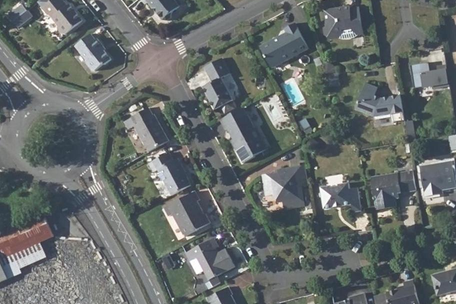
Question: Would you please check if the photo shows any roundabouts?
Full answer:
Yes, you can see a roundabout in this photo.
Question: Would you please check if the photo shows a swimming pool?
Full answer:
Yes, looking at the shot, I can spot a swimming pool.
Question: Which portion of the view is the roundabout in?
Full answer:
You can find the roundabout in the left area of the picture.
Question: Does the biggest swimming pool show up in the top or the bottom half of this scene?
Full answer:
Seen from above, the biggest swimming pool lies in the top half of the view.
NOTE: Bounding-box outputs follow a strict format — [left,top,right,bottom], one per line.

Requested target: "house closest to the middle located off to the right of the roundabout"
[219,105,270,163]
